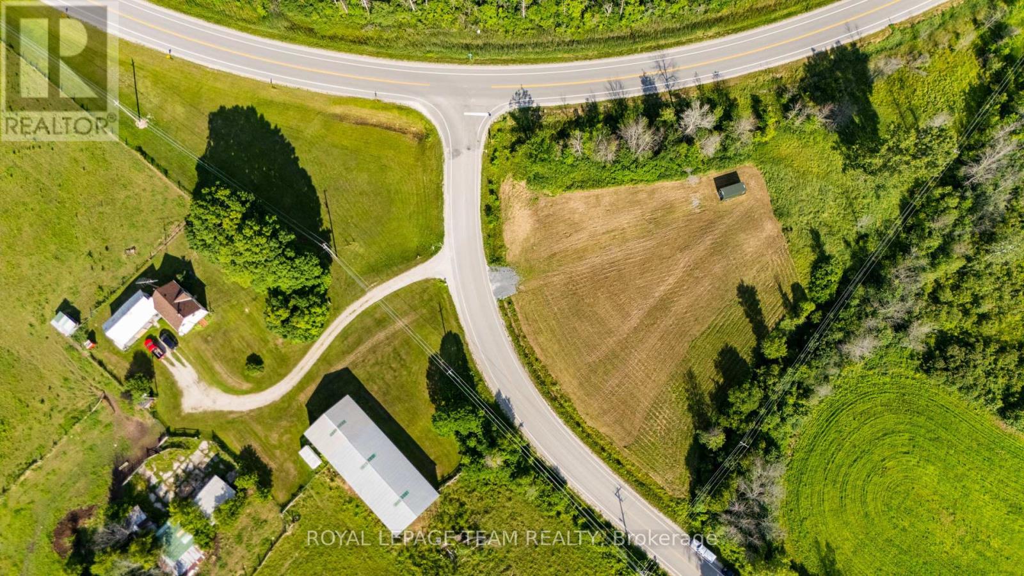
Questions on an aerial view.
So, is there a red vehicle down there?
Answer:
Yes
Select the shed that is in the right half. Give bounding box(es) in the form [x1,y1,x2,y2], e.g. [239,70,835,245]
[718,181,747,202]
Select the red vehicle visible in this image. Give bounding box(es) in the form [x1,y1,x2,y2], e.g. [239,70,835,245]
[143,337,166,362]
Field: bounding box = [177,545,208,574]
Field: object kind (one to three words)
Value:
shed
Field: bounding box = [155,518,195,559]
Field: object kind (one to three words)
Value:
shed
